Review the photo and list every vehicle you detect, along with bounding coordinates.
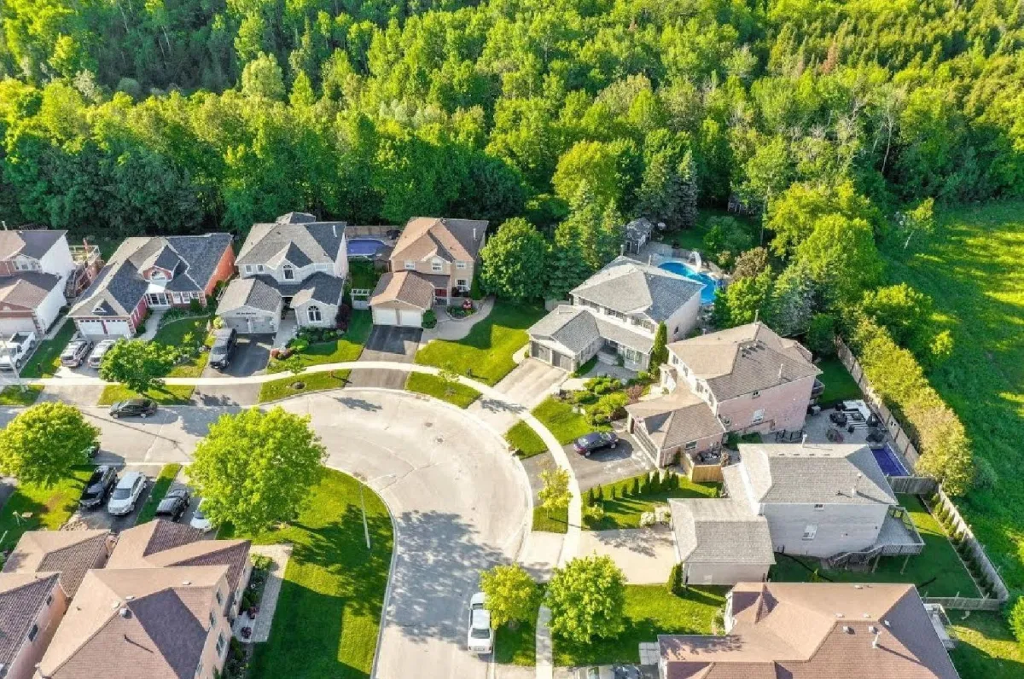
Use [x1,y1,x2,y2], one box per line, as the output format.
[108,461,146,511]
[58,336,95,364]
[466,594,493,650]
[156,466,199,514]
[209,335,236,366]
[78,461,115,507]
[574,425,624,453]
[85,336,119,364]
[107,397,159,418]
[190,481,223,525]
[579,665,647,679]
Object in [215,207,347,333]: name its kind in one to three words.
house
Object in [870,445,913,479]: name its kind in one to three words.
swimming pool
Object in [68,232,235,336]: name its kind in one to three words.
house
